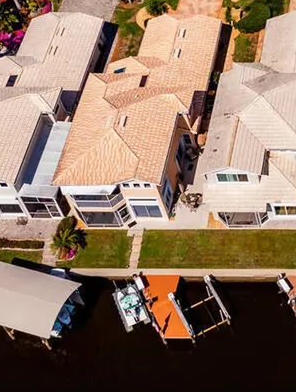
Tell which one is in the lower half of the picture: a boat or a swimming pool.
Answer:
boat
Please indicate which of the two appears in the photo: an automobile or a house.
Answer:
house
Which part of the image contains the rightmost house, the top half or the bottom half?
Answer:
top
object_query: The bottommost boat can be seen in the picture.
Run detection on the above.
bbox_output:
[50,306,84,344]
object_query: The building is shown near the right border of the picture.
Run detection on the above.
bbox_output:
[200,11,296,228]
